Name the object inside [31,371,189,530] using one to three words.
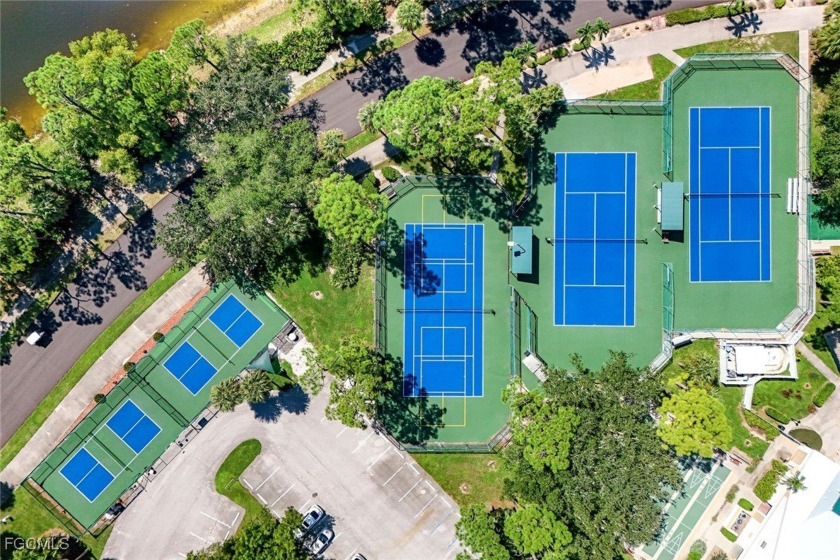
sports court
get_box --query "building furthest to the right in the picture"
[808,321,840,376]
